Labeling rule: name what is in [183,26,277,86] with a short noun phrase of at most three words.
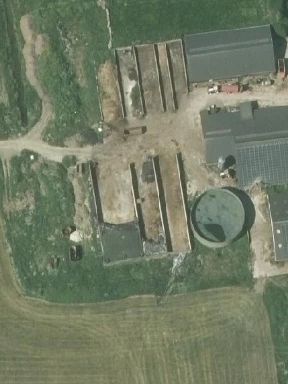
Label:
barn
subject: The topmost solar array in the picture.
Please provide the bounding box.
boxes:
[240,147,288,188]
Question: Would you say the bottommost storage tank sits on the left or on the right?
right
